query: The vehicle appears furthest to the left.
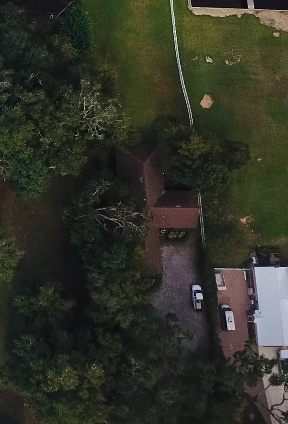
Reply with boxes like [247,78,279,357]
[190,284,204,311]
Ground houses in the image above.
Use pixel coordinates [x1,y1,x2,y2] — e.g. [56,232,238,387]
[248,253,288,347]
[111,144,199,274]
